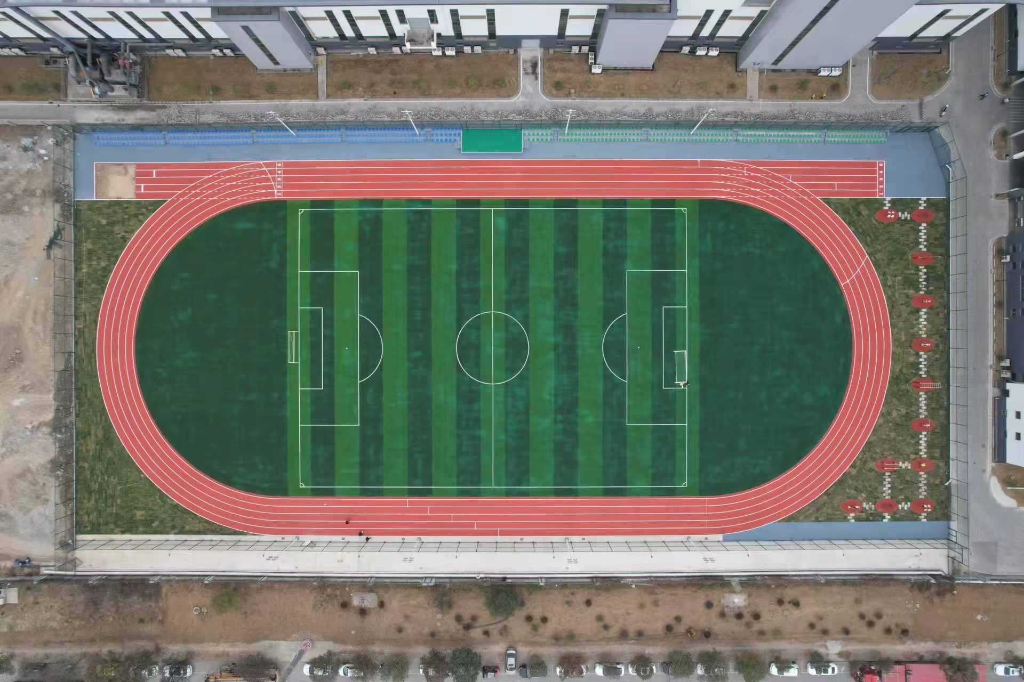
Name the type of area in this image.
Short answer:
sports ground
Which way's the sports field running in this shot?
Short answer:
from left to right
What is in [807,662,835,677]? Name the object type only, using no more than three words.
car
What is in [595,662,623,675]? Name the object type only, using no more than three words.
vehicle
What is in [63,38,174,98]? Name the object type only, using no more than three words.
building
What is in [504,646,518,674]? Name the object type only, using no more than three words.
car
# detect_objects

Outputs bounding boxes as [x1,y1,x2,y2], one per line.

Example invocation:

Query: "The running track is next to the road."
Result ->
[94,160,892,536]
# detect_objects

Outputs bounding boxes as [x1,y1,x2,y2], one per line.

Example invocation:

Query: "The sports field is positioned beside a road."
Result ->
[136,200,852,496]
